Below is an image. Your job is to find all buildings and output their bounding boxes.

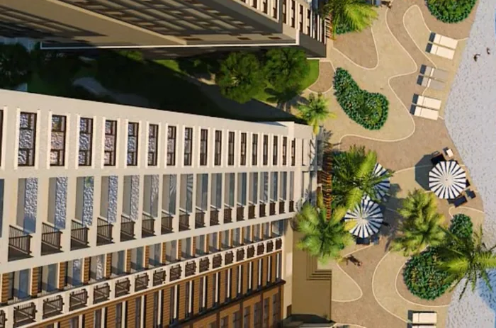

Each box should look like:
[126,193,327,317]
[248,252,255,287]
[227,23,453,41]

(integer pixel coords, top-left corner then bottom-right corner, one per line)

[0,90,323,328]
[0,0,328,55]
